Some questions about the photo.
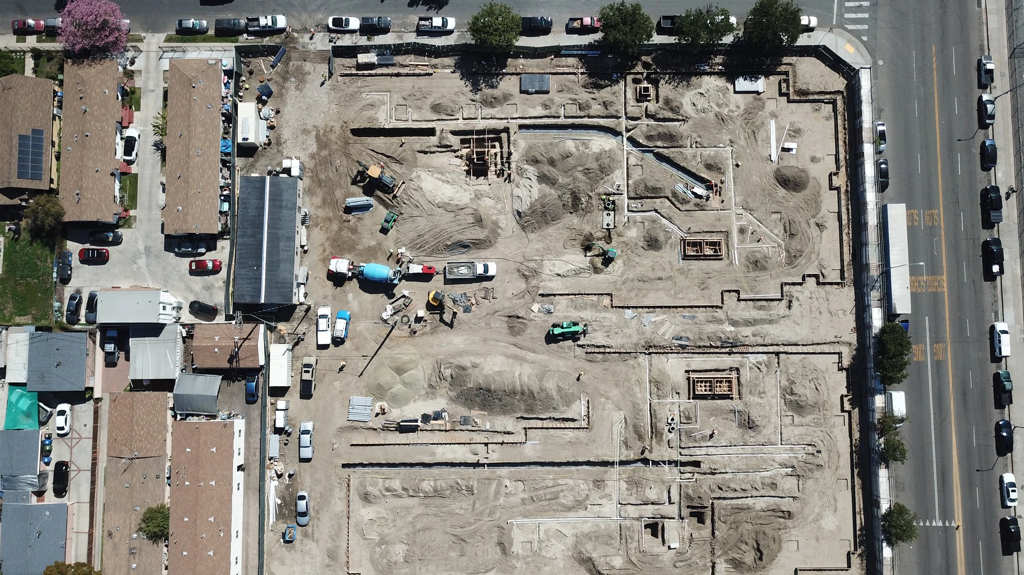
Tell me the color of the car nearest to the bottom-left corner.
black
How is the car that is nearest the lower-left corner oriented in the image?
vertically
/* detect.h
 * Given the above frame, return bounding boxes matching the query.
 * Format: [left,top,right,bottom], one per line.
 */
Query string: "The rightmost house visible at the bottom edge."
[167,421,244,575]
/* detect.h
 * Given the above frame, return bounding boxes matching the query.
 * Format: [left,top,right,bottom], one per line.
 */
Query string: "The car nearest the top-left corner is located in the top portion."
[13,18,45,34]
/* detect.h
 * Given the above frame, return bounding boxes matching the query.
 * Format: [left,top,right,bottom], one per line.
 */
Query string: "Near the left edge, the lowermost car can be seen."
[51,461,72,497]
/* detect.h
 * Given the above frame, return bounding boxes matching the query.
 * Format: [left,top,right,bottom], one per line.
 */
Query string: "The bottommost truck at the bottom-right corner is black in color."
[999,516,1020,553]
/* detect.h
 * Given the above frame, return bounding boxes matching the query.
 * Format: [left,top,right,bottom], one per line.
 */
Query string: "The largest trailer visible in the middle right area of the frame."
[879,203,915,315]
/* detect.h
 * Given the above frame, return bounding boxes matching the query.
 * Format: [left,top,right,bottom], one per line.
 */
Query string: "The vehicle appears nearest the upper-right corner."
[977,55,996,87]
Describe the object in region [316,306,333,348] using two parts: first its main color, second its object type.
white vehicle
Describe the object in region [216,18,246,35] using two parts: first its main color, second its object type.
black car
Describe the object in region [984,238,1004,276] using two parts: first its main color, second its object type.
black vehicle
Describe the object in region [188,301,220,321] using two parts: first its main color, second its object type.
black car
